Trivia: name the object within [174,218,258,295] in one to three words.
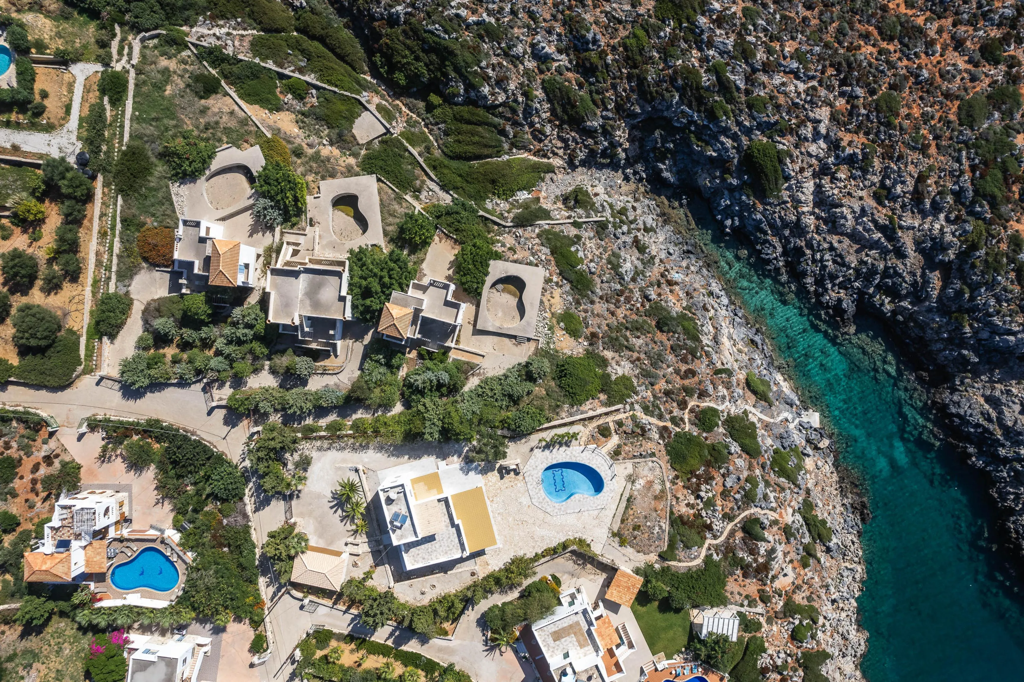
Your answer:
house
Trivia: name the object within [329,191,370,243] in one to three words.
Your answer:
swimming pool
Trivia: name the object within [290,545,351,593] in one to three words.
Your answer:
building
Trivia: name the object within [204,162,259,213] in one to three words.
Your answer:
swimming pool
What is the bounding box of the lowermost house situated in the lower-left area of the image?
[126,628,219,682]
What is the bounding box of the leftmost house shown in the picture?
[22,487,133,590]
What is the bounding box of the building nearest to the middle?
[377,278,464,352]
